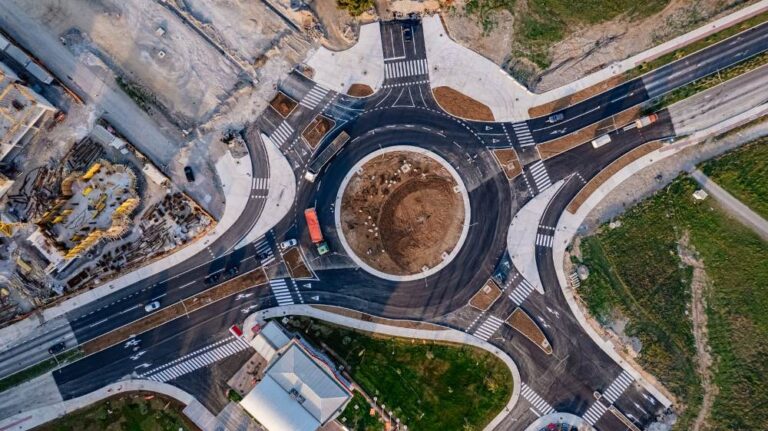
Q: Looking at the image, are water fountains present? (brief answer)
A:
No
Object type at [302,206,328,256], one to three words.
truck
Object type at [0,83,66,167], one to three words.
building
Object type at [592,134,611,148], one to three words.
vehicle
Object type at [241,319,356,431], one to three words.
building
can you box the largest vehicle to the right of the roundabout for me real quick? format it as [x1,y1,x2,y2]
[636,110,664,129]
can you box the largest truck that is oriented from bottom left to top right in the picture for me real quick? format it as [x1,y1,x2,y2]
[303,128,350,181]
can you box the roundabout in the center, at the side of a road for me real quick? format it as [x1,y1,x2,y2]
[268,100,515,325]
